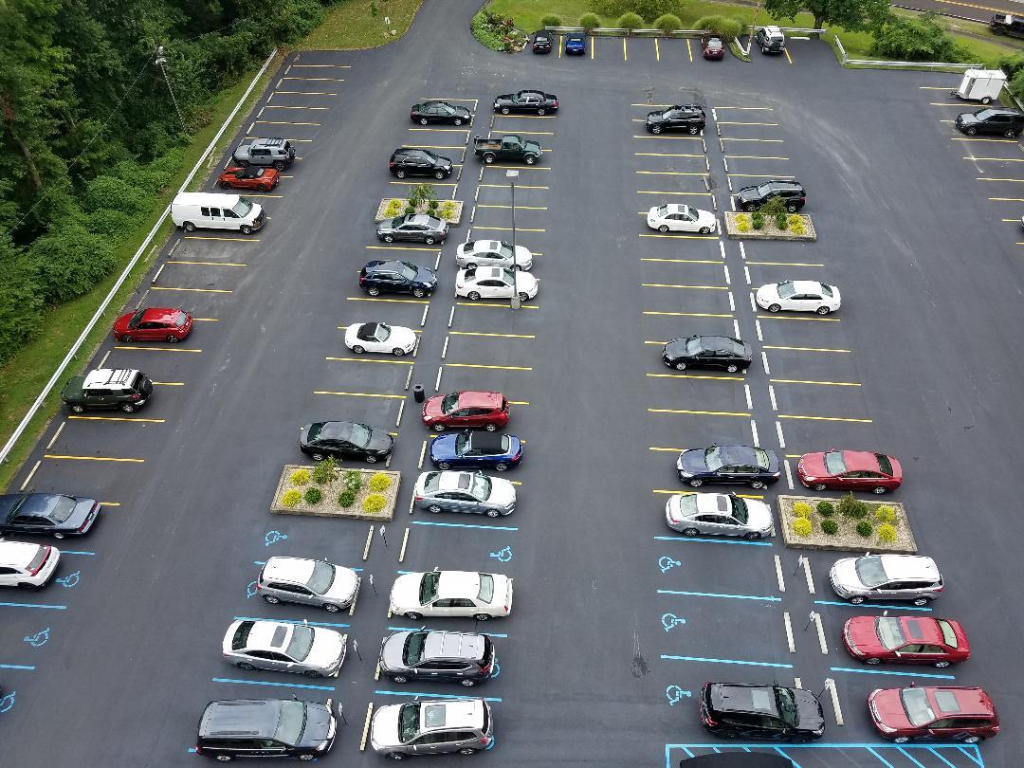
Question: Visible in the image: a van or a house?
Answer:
van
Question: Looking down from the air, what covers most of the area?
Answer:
paved ground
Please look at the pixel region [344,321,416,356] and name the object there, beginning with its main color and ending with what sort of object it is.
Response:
white car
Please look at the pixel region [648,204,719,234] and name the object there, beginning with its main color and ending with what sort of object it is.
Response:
white car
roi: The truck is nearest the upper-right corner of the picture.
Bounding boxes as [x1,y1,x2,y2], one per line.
[989,3,1024,31]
